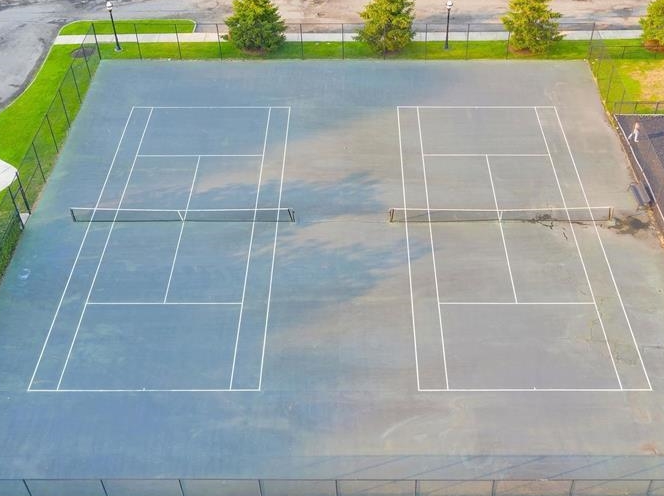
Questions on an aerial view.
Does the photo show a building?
No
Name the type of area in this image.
sports ground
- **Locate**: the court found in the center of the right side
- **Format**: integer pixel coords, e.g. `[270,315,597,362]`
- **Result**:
[398,107,651,391]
